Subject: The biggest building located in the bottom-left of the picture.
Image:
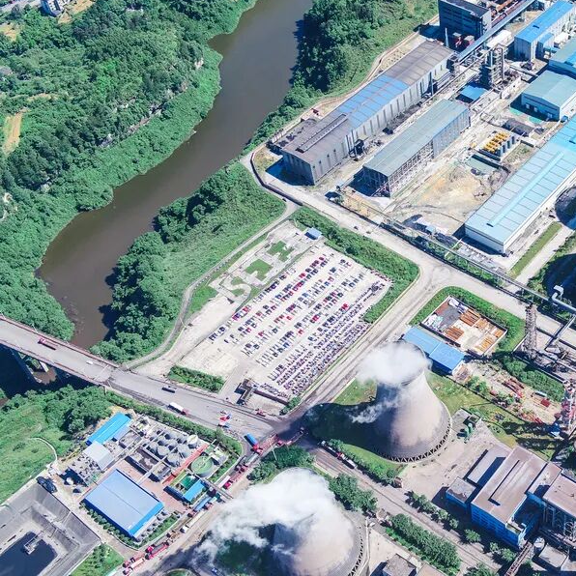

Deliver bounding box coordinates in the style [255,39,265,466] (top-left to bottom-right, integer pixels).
[83,468,169,542]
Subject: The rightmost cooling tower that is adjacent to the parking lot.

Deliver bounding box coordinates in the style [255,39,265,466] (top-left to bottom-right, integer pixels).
[359,344,453,472]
